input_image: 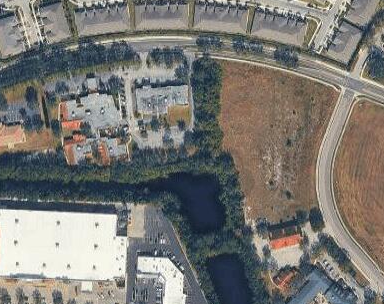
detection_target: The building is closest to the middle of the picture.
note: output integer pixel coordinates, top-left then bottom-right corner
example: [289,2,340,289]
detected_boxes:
[136,85,189,113]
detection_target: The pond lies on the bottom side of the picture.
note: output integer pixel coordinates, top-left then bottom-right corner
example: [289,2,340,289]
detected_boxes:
[120,172,225,232]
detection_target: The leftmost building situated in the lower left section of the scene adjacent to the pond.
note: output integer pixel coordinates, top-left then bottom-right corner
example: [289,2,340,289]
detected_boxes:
[0,209,128,292]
